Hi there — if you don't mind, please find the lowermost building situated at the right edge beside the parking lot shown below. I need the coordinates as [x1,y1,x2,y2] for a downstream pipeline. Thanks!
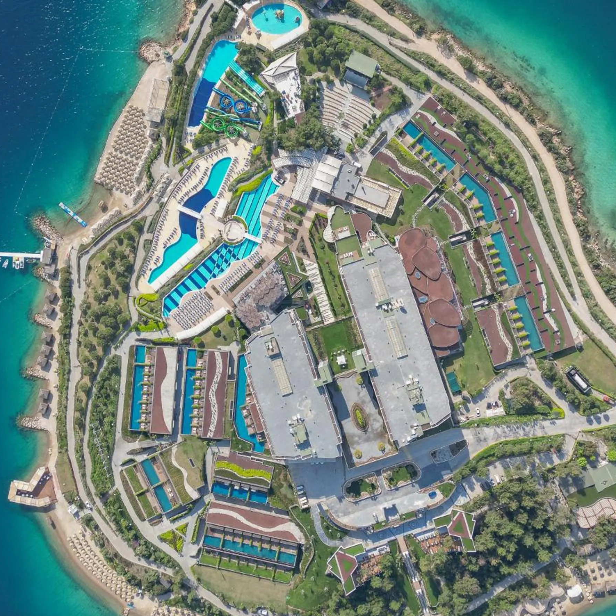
[554,459,616,526]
